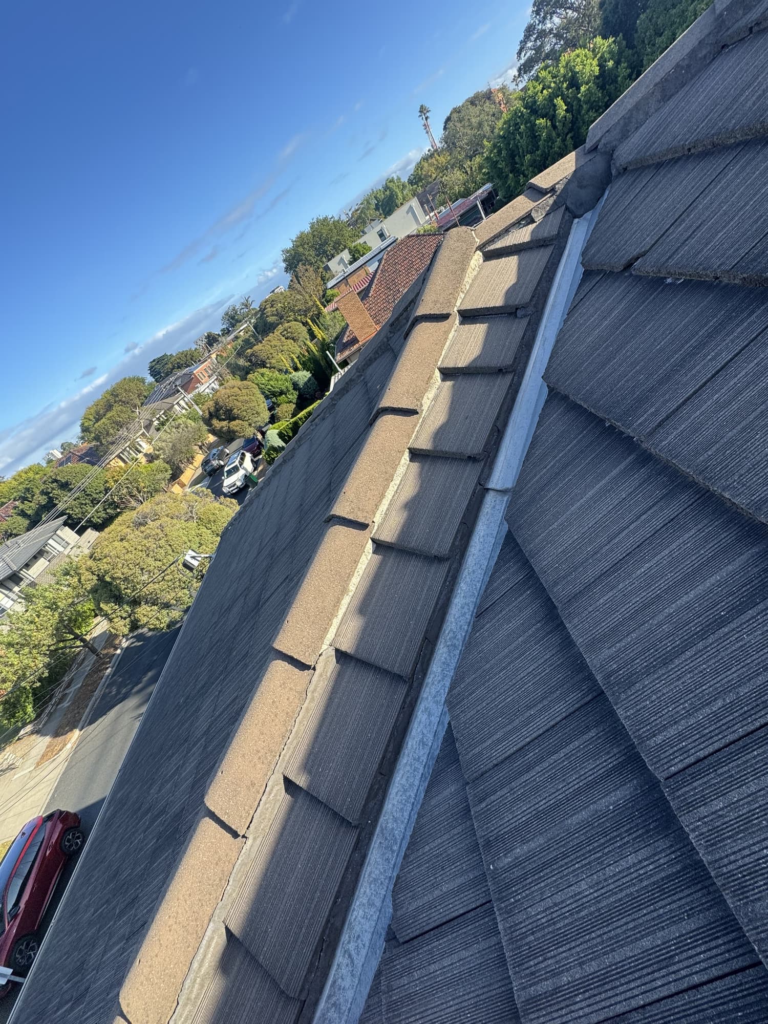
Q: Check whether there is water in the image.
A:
No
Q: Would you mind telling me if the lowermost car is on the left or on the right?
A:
left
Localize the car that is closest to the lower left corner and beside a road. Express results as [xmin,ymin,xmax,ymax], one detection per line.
[0,806,85,975]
